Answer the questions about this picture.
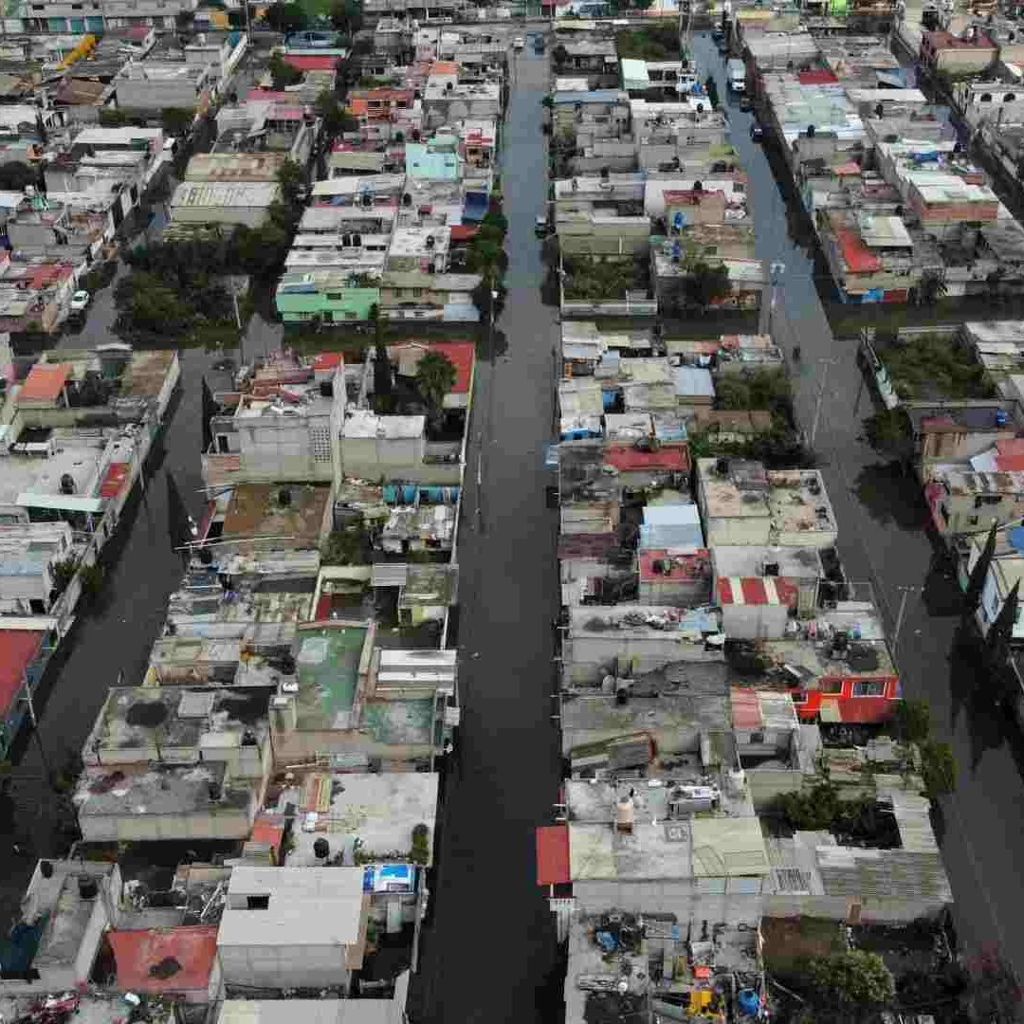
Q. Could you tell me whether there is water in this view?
Yes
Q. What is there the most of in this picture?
buildings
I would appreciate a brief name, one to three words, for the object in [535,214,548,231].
vehicle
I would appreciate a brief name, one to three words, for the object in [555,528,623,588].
shed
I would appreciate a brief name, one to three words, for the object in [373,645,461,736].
house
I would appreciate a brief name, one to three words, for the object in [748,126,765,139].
vehicle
